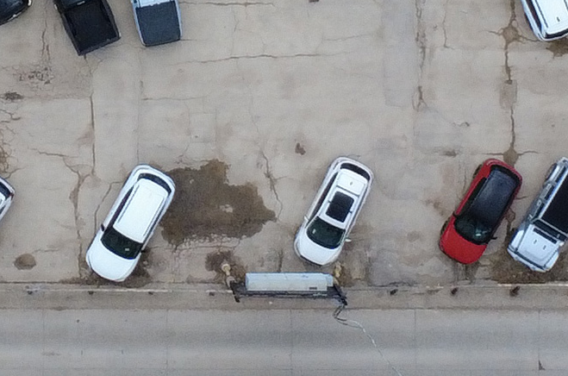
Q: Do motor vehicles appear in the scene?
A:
Yes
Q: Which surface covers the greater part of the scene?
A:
paved ground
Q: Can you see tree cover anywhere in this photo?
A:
No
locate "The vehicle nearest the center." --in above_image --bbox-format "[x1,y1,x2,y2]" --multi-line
[294,155,372,266]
